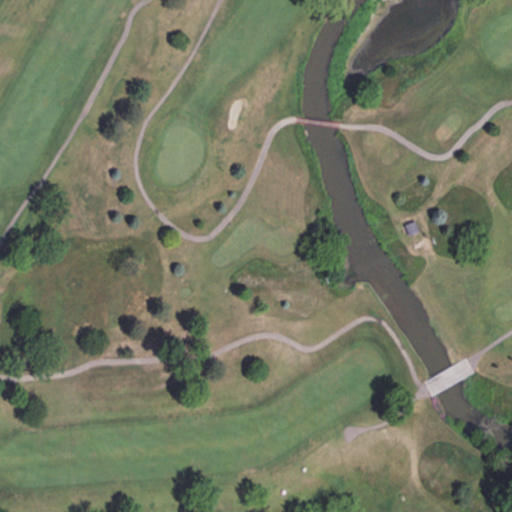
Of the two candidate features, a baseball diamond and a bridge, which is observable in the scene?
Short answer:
bridge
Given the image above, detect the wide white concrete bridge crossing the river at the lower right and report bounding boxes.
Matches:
[424,358,476,398]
